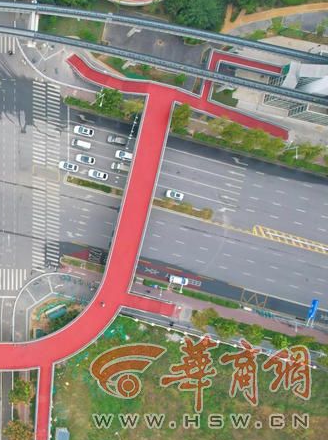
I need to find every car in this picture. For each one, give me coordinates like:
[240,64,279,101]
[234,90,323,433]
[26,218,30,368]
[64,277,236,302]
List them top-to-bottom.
[73,125,94,137]
[107,134,128,145]
[72,138,93,149]
[116,149,132,161]
[75,154,96,165]
[111,160,129,172]
[59,161,80,173]
[87,169,109,181]
[164,189,185,200]
[167,275,189,286]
